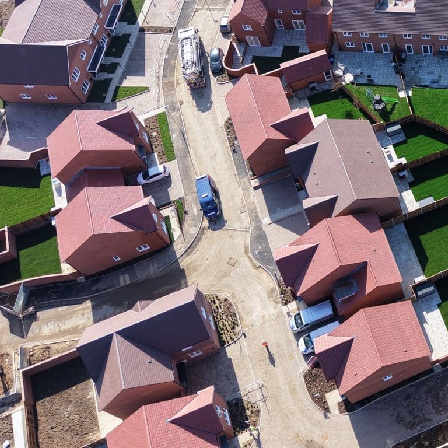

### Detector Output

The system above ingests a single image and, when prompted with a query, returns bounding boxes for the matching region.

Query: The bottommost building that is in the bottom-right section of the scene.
[314,300,433,402]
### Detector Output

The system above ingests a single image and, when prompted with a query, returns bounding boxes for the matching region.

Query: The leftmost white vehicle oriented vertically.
[177,28,209,86]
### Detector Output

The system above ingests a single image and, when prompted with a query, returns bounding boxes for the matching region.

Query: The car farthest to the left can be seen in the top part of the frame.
[135,163,173,185]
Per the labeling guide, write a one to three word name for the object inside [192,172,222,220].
van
